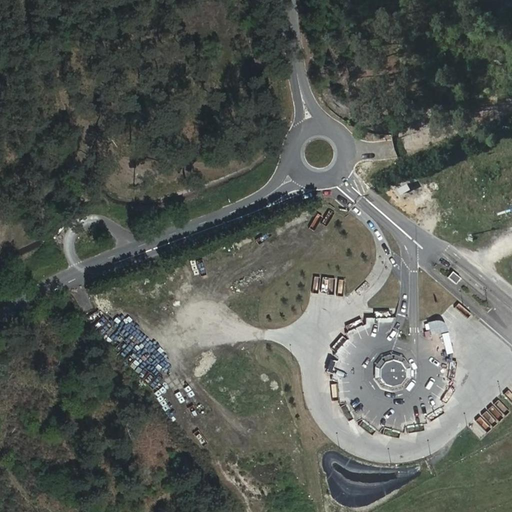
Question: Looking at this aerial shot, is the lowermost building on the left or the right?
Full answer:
The lowermost building appears in the right half of the scene.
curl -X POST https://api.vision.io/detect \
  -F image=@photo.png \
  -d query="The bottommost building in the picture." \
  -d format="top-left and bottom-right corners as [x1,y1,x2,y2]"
[376,353,414,394]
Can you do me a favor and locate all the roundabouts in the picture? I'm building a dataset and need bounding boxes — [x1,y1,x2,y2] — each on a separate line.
[272,118,356,192]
